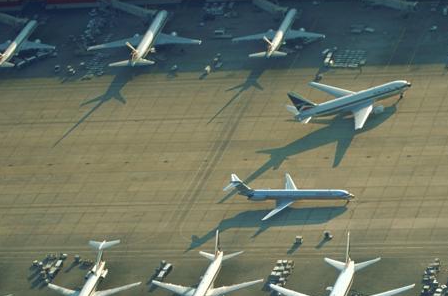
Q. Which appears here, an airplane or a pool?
airplane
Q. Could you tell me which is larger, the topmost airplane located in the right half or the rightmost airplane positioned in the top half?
the rightmost airplane positioned in the top half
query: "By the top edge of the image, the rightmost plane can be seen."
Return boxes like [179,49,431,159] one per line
[233,8,325,56]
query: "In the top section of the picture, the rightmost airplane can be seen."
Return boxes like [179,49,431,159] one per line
[282,80,410,126]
